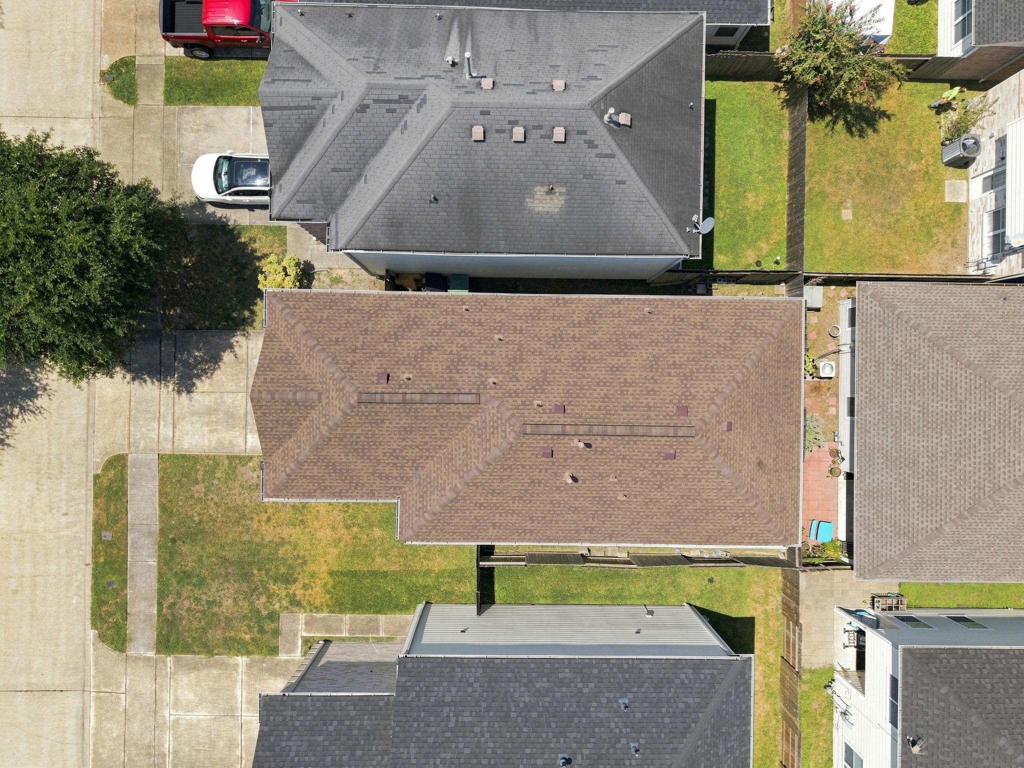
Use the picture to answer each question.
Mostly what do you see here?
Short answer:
buildings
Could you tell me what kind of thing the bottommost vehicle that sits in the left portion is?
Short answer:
automobile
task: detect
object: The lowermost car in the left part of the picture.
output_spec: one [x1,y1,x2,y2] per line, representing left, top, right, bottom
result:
[192,148,272,207]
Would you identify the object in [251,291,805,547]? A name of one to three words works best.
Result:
house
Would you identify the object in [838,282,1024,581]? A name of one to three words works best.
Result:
house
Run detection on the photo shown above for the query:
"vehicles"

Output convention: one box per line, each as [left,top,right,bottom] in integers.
[156,0,308,55]
[192,148,272,207]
